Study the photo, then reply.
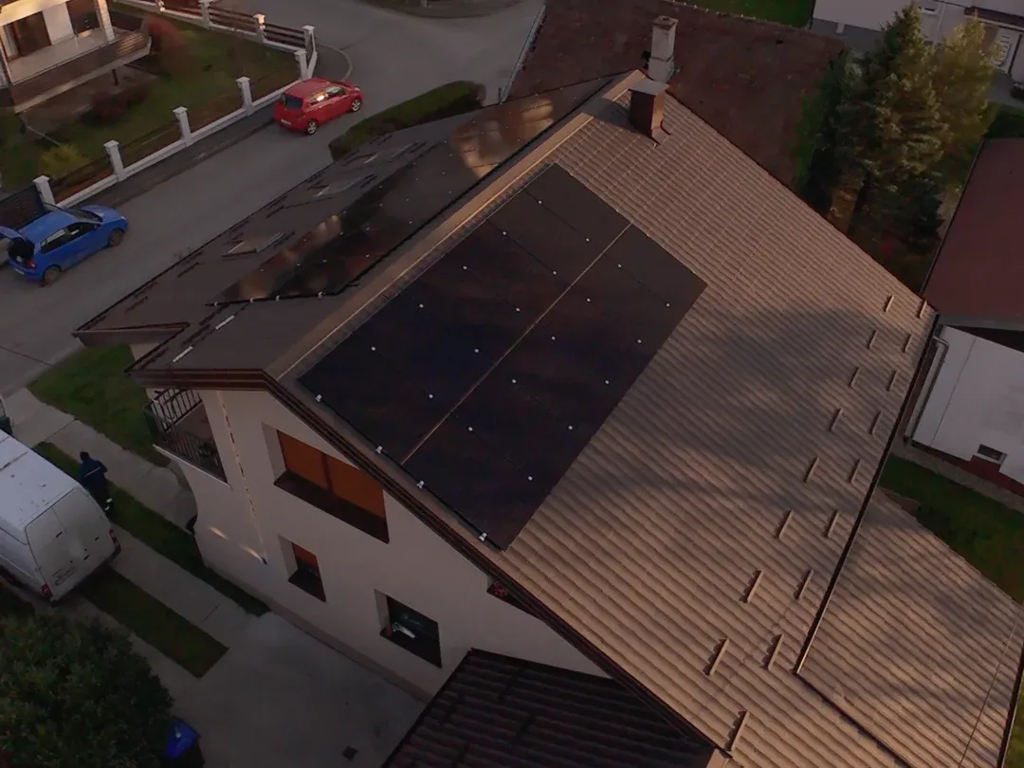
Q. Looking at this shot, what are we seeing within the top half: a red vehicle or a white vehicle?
red vehicle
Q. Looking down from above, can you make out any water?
No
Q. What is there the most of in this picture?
buildings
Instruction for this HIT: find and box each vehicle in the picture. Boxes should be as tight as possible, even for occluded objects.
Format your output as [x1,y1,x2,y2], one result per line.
[274,79,360,131]
[0,210,121,283]
[0,442,128,604]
